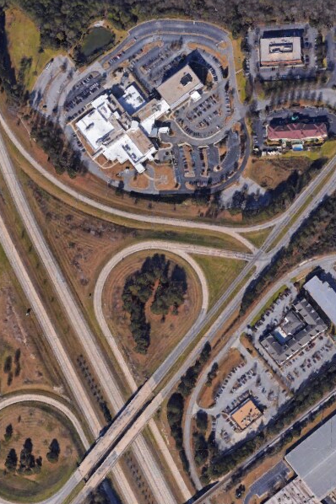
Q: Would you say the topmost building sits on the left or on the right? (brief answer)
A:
right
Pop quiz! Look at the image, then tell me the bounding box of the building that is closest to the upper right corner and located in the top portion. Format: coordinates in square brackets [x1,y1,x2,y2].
[260,38,303,67]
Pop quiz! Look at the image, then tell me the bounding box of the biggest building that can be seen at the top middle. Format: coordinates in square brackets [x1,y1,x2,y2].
[76,66,204,173]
